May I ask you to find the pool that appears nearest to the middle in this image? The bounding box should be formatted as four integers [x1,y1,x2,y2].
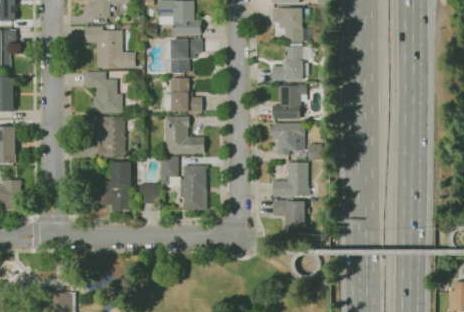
[144,161,159,182]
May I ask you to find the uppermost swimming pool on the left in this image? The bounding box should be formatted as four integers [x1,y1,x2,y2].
[149,45,163,71]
